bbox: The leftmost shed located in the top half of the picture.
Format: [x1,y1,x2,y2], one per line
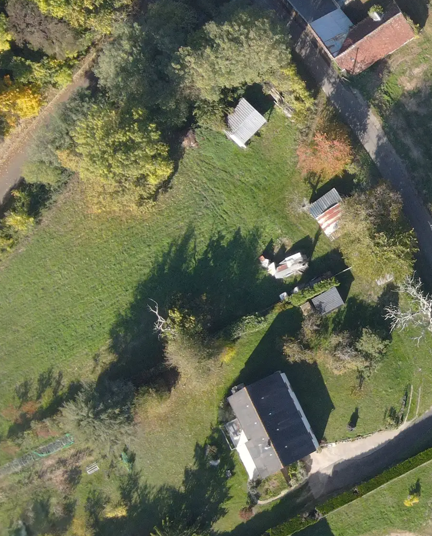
[224,104,269,147]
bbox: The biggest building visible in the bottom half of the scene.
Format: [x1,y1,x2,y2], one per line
[228,374,323,480]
